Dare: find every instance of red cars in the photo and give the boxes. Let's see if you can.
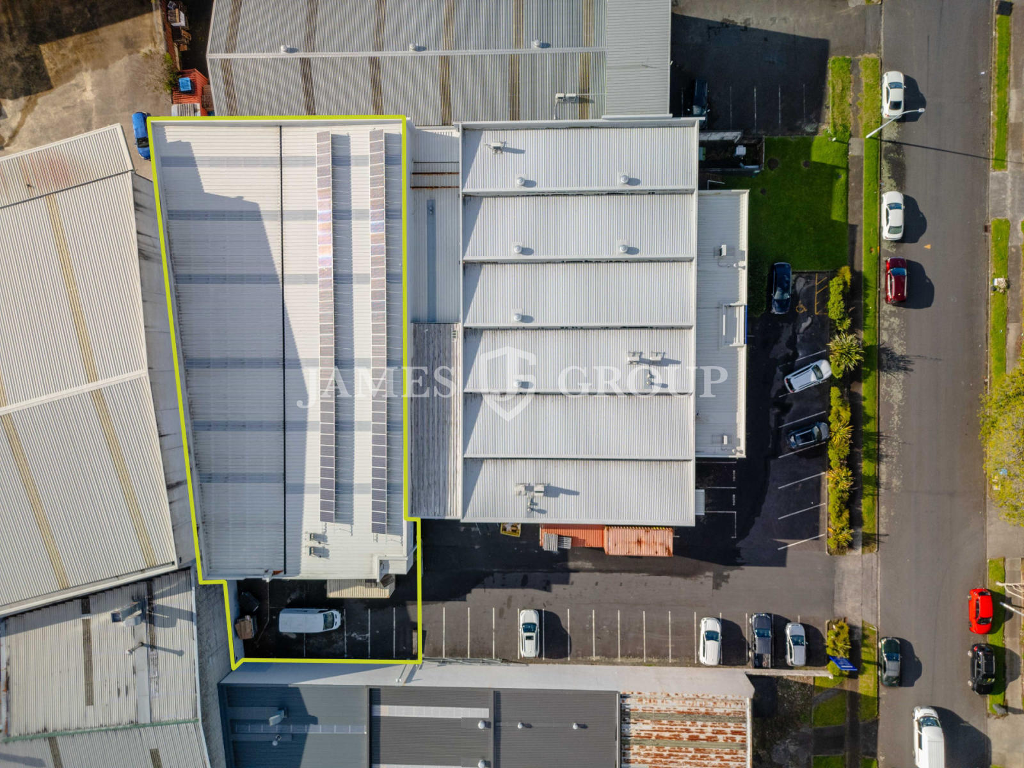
[884,258,910,304]
[967,588,995,634]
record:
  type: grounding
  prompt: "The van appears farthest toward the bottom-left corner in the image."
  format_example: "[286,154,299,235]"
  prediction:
[277,607,342,635]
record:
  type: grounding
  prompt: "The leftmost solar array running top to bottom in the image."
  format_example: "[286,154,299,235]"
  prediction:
[317,130,347,533]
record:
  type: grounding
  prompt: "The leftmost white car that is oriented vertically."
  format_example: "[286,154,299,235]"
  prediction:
[518,609,541,658]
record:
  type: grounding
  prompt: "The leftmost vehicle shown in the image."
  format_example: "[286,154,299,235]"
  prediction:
[130,112,155,161]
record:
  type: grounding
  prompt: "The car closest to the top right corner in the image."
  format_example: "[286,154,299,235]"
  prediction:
[881,72,906,120]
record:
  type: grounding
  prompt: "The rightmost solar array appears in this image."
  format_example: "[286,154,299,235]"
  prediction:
[370,128,398,543]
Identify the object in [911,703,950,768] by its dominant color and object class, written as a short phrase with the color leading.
white van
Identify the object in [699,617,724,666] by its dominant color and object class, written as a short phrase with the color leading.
white car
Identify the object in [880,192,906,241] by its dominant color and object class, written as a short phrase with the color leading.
white car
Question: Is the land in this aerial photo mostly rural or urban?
urban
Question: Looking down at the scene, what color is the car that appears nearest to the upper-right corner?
white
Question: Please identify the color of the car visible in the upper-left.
blue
